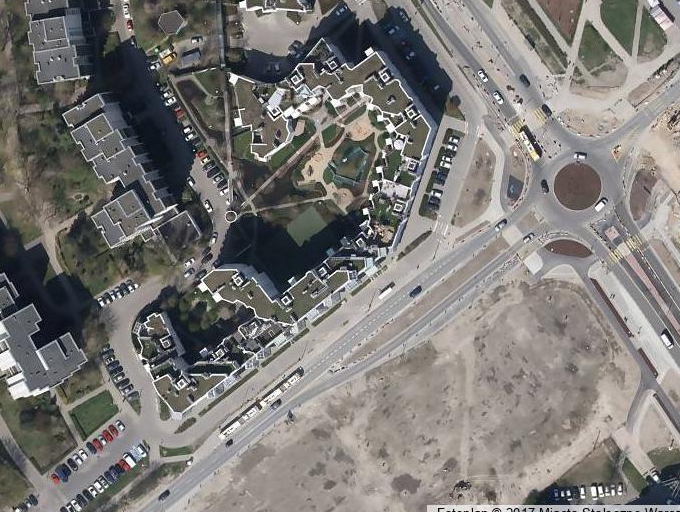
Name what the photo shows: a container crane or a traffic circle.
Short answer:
traffic circle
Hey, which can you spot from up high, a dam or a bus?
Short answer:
bus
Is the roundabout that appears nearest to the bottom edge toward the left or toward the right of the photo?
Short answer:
right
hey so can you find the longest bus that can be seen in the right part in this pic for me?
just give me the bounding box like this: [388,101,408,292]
[516,125,543,161]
